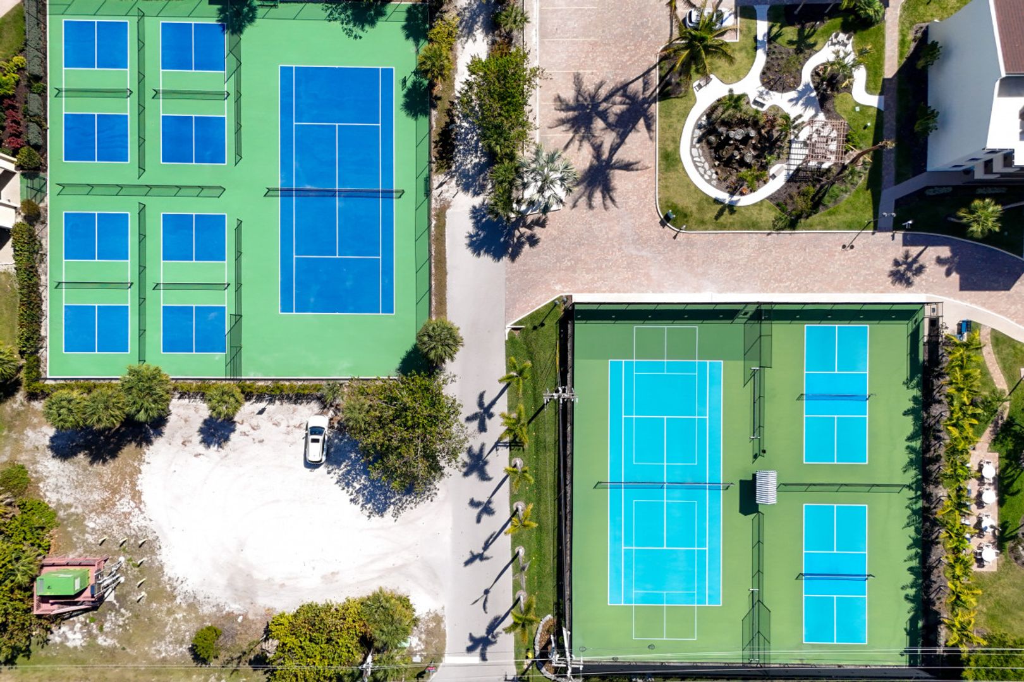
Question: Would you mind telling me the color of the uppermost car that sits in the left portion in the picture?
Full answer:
The uppermost car that sits in the left portion looks white in the image.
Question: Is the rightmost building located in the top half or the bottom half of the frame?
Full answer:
You can find the rightmost building in the top half.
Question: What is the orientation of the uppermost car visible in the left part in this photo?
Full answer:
The uppermost car visible in the left part is oriented up and down.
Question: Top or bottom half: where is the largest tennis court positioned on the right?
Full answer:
You can find the largest tennis court positioned on the right in the bottom half.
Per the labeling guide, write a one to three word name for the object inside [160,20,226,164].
sports court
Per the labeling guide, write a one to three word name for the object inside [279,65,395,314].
tennis court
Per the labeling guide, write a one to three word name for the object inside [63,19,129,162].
sports court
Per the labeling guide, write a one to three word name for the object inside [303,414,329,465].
car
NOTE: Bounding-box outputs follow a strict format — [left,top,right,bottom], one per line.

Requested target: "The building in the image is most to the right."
[926,0,1024,186]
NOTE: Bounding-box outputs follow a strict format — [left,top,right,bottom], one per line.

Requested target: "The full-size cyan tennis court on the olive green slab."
[608,360,723,607]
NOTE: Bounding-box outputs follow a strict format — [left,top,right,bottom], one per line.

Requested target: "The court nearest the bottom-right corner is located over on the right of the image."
[803,505,867,645]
